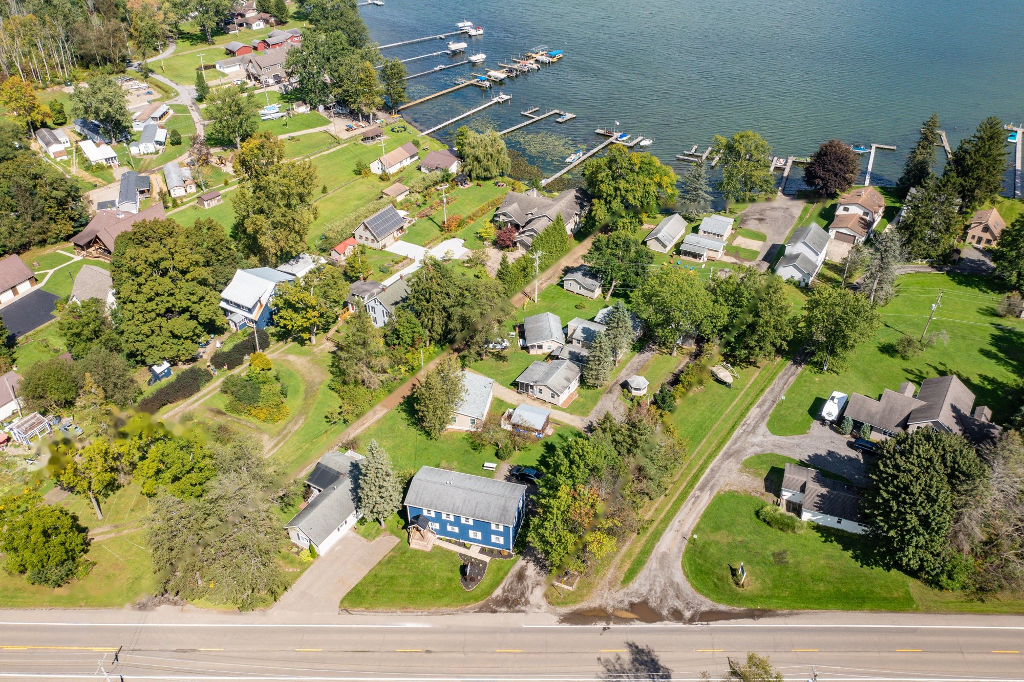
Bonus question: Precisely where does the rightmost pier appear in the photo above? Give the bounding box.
[1004,126,1024,200]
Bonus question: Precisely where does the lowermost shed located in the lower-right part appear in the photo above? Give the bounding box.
[780,462,871,536]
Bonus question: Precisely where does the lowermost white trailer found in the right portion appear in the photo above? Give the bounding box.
[819,387,849,430]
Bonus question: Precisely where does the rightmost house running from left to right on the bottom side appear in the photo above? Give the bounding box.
[843,375,1005,456]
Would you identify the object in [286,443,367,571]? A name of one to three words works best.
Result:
house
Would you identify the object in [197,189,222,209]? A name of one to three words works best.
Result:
shed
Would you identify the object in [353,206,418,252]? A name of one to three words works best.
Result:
barn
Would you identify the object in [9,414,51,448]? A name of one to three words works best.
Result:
greenhouse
